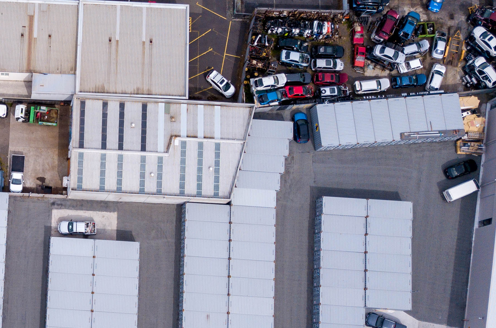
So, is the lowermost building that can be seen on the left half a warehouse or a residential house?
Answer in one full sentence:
What you see as the lowermost building that can be seen on the left half is a warehouse.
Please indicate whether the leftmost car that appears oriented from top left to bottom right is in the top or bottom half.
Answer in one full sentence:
You can find the leftmost car that appears oriented from top left to bottom right in the top half.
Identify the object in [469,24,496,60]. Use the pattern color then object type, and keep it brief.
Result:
white car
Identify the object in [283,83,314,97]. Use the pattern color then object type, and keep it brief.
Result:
red car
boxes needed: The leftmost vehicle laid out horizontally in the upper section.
[15,104,59,125]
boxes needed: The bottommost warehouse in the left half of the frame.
[66,93,257,205]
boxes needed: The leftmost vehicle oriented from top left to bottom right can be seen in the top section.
[204,70,239,100]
